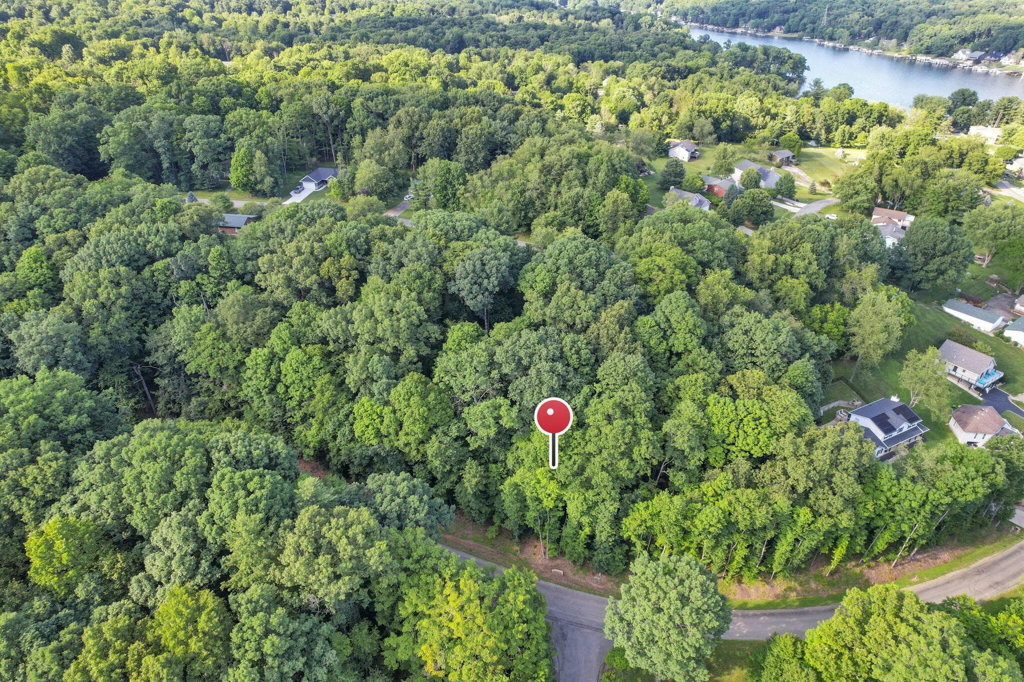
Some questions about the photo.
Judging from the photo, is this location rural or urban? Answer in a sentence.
The land in this view is best described as rural.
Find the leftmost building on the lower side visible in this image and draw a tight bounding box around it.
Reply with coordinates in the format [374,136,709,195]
[847,394,935,468]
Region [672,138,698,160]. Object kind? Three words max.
house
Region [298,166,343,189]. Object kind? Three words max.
house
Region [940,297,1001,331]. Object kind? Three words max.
building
